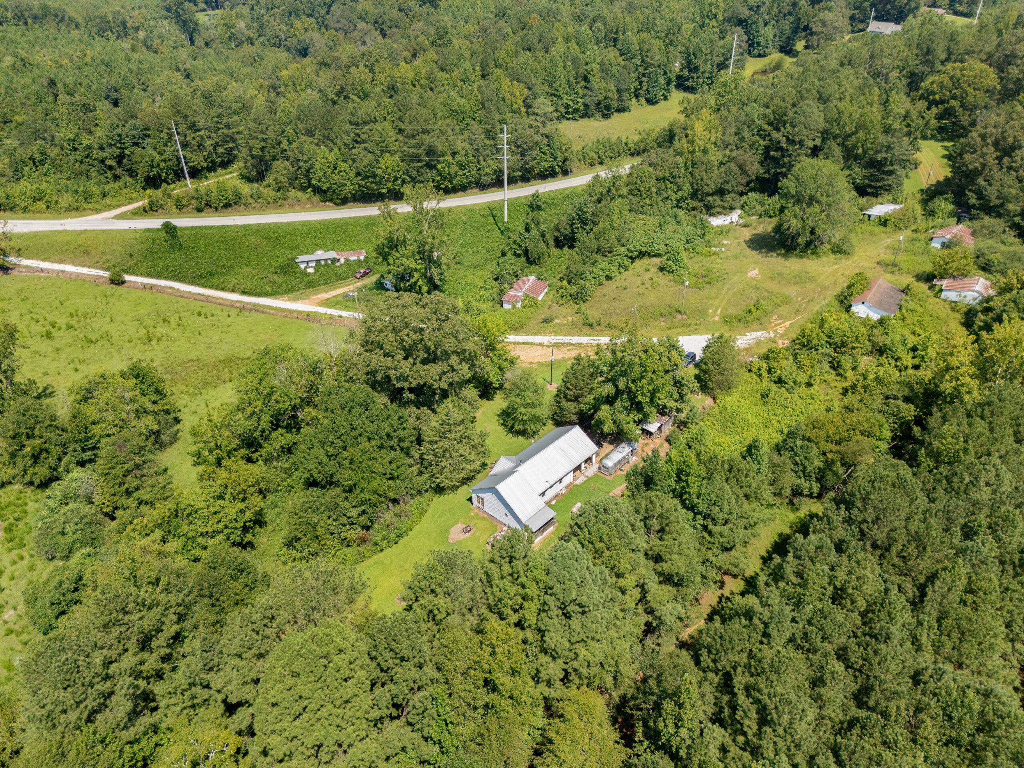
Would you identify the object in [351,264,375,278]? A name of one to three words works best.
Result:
vehicle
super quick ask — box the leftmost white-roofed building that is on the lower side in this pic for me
[472,424,600,544]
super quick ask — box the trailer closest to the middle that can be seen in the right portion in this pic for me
[597,435,641,474]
